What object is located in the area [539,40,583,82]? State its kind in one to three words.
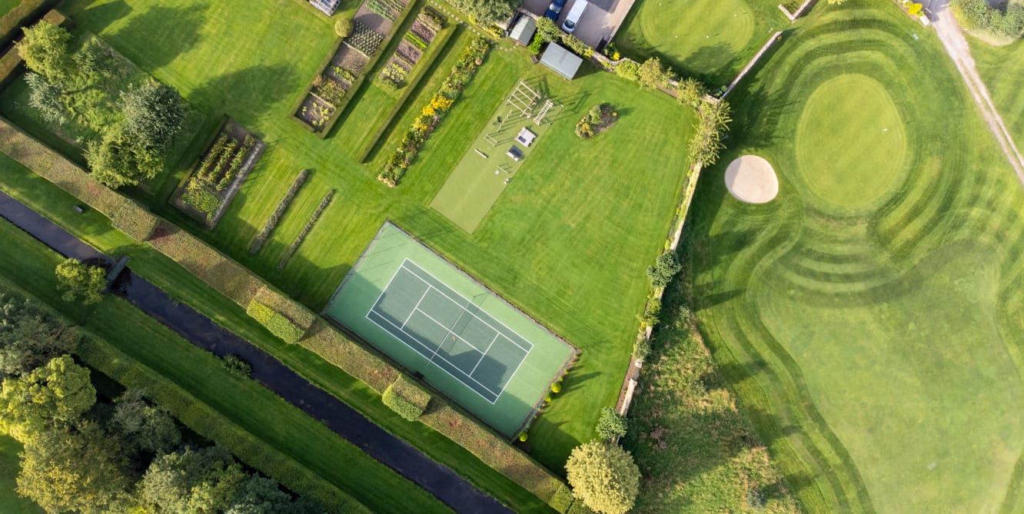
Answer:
shed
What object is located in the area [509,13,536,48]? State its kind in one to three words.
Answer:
shed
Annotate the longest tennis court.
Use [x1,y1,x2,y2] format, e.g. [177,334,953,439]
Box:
[324,221,577,440]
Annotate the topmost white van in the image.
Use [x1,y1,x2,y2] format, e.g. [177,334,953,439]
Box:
[563,0,591,31]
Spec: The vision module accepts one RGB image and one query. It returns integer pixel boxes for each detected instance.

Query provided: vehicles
[563,0,591,31]
[548,0,570,20]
